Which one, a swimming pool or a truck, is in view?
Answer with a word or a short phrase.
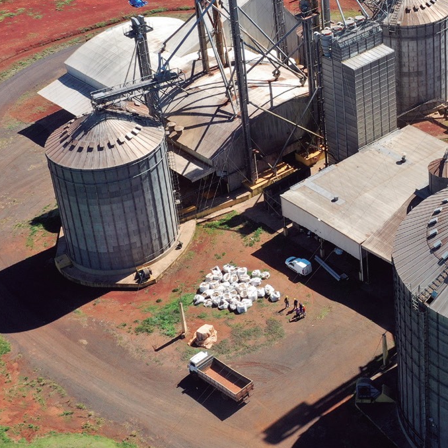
truck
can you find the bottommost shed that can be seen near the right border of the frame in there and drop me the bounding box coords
[281,125,448,301]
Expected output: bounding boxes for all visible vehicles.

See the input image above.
[183,349,254,406]
[284,253,316,276]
